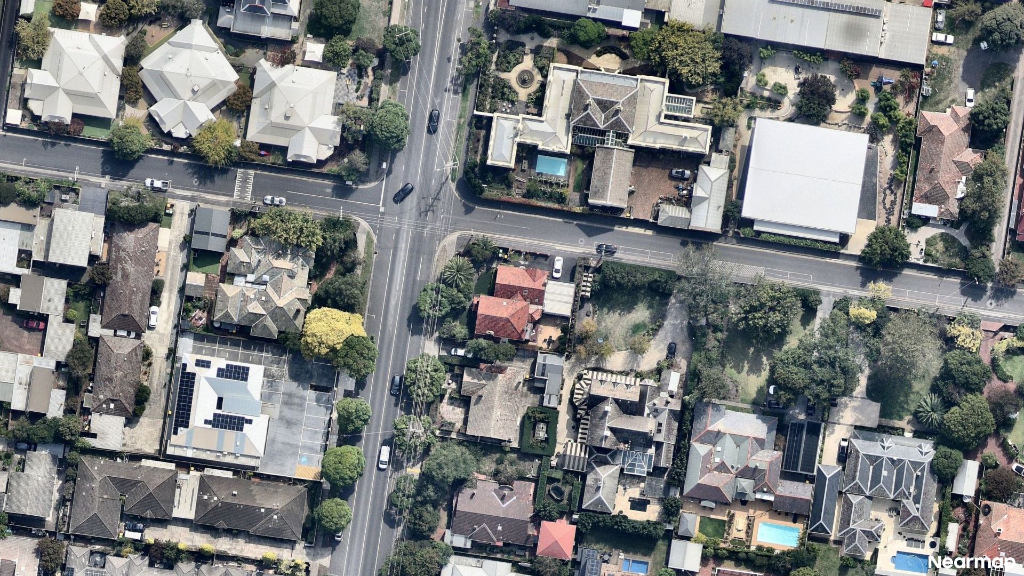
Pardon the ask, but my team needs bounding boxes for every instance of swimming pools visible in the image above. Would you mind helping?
[621,558,651,576]
[755,522,802,548]
[890,550,931,575]
[628,499,649,513]
[533,154,569,177]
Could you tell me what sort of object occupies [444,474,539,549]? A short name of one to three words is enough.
house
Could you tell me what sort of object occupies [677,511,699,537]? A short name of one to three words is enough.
gazebo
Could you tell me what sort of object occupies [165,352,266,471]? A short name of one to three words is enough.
building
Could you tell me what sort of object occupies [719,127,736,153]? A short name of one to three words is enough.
shed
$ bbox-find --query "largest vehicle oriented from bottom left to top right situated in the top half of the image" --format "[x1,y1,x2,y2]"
[393,182,414,203]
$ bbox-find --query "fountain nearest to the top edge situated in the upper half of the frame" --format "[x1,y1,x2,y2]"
[516,69,535,88]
